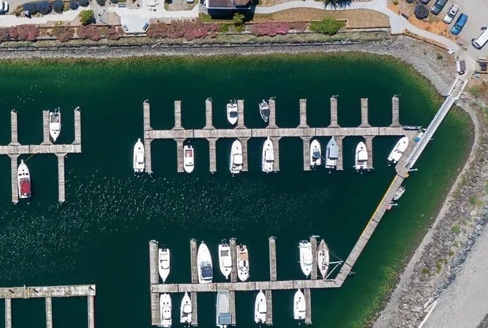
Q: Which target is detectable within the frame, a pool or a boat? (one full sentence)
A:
The one in the frame is a boat.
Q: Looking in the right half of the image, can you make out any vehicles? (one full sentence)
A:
Yes, in the right half of the image there is a vehicle.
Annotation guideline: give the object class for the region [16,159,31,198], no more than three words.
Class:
boat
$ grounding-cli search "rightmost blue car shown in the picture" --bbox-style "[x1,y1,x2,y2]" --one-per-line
[451,12,468,35]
